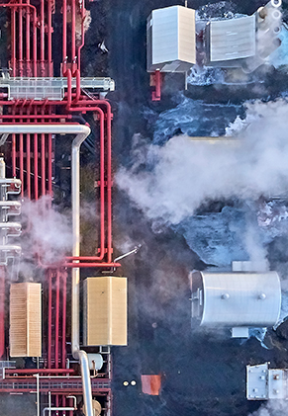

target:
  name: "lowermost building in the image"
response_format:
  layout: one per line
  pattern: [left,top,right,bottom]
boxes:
[238,363,288,400]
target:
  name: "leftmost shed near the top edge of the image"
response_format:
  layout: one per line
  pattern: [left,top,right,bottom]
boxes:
[145,3,196,72]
